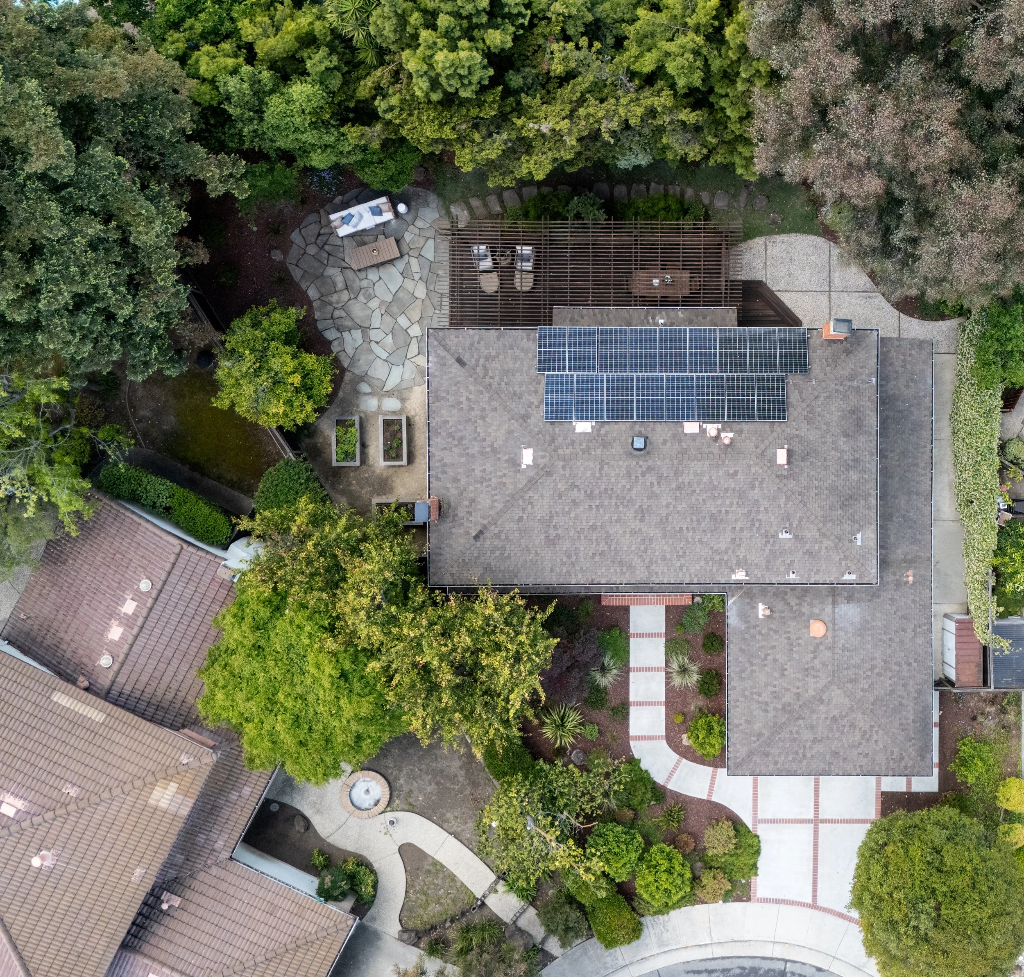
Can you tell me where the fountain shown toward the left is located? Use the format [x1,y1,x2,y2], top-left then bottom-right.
[342,769,391,819]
